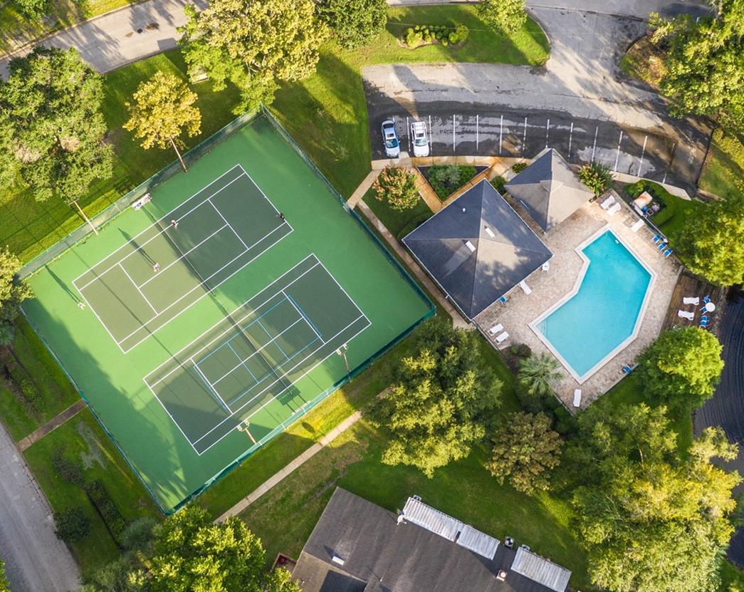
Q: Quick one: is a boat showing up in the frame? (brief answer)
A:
No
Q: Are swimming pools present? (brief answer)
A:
Yes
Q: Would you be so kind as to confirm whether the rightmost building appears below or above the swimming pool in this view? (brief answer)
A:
above it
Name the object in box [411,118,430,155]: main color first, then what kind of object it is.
white car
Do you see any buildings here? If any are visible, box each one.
[403,179,555,320]
[294,486,572,592]
[503,149,596,234]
